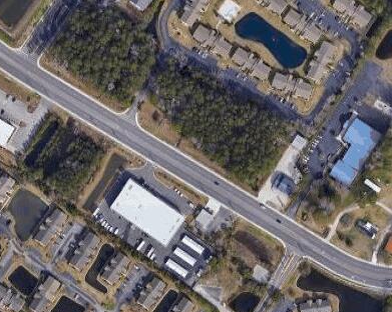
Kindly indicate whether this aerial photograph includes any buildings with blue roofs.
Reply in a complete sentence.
Yes, a building with a blue roof is visible in the scene.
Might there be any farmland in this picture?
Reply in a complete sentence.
No, farmland can't be seen anywhere here.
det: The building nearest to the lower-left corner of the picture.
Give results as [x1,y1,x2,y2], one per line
[0,283,27,312]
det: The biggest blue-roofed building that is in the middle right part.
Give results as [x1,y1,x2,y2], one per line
[330,111,382,186]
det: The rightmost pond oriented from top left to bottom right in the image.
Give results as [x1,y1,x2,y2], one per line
[235,12,306,68]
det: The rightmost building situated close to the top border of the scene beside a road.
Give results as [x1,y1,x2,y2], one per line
[330,0,375,32]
